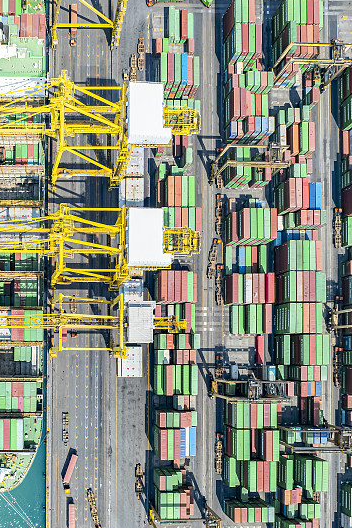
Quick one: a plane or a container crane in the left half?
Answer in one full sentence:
There is a container crane in the left half.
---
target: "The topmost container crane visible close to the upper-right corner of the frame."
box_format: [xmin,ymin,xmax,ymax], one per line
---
[270,39,352,87]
